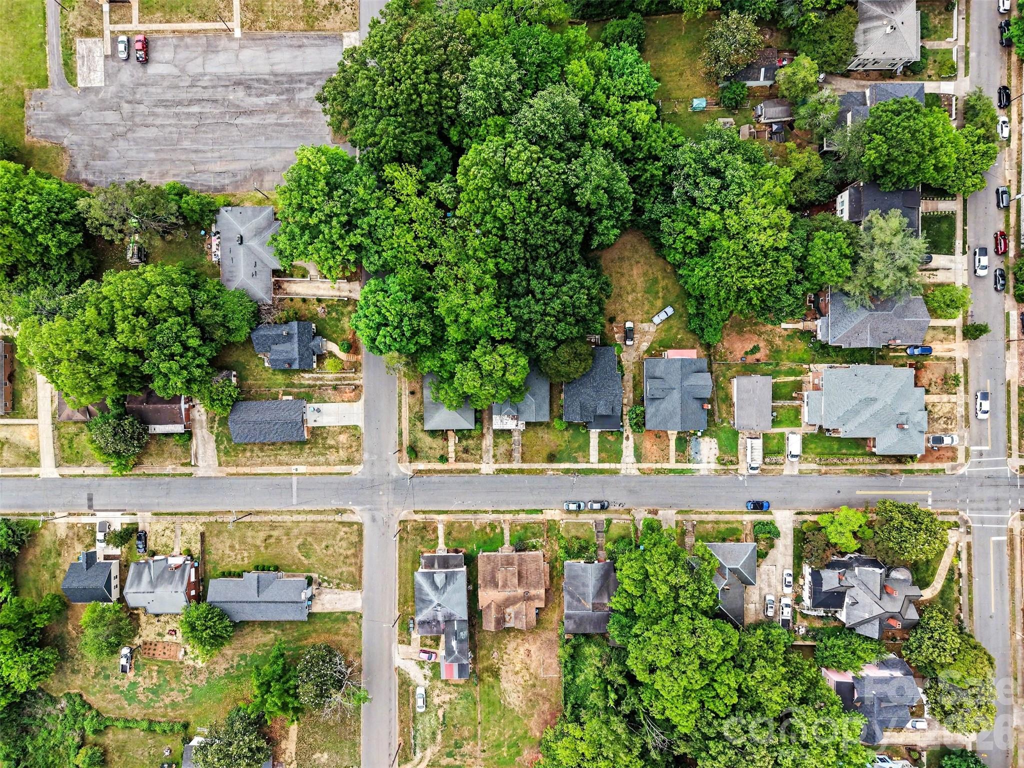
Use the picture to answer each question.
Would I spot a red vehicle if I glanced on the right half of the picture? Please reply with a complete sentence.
Yes, a red vehicle appears on the right half of the picture.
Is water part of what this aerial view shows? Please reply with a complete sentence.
No, no water is visible.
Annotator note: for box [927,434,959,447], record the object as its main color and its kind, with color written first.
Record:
white vehicle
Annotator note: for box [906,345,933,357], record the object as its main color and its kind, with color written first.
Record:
blue vehicle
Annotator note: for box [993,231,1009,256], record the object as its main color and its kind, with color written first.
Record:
red car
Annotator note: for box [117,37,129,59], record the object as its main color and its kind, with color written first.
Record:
white vehicle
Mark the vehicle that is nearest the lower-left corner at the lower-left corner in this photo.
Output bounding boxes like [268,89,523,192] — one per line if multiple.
[121,646,134,673]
